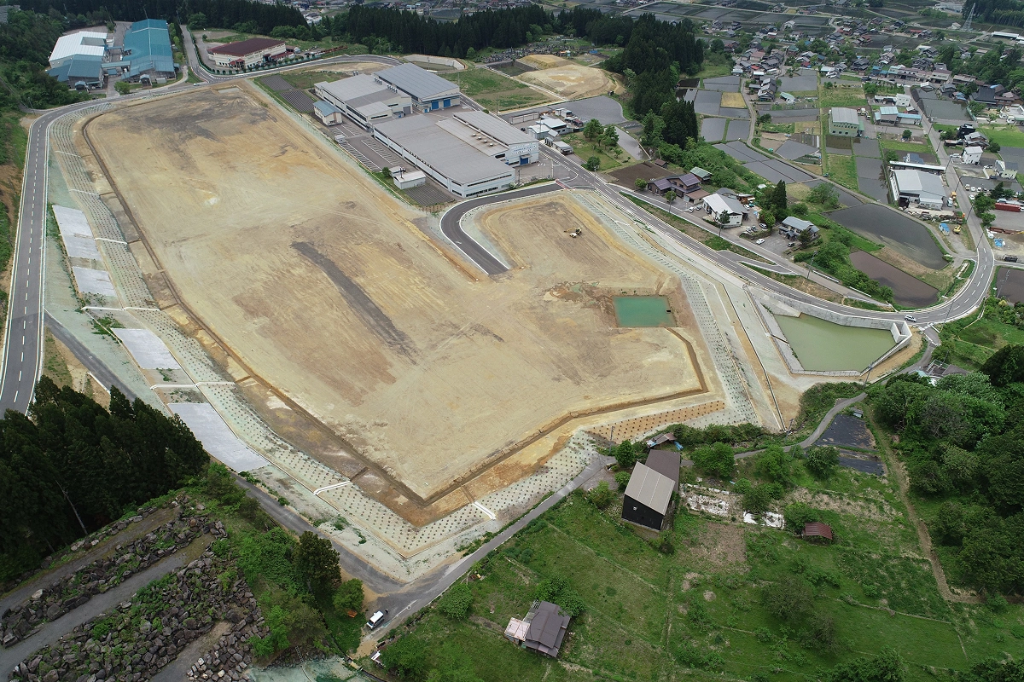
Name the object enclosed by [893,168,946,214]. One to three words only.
building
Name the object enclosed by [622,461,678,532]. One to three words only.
barn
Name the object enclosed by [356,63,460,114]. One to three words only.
building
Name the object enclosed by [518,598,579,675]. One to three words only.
house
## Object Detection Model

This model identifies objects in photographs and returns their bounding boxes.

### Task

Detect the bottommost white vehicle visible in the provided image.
[365,608,385,629]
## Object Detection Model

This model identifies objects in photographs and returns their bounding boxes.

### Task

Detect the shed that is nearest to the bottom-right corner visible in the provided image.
[800,522,833,549]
